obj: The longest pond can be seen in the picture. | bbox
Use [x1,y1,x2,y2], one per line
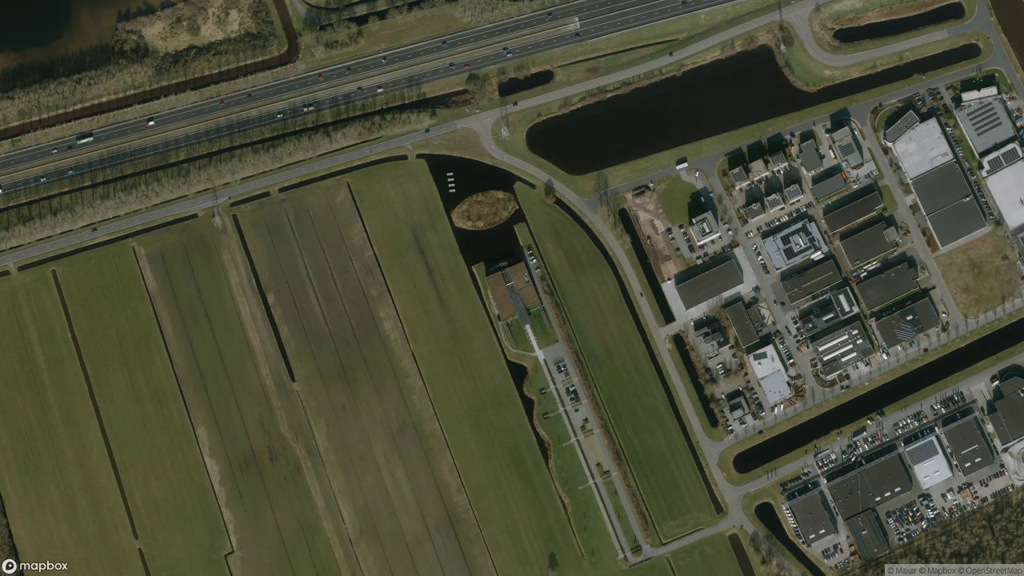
[416,154,702,558]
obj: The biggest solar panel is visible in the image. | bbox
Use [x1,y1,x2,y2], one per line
[907,439,939,466]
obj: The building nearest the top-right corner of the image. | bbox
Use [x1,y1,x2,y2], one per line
[961,86,998,103]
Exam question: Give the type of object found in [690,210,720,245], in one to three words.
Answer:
building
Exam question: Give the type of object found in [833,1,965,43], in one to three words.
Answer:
pond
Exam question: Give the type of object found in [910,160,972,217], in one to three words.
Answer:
building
